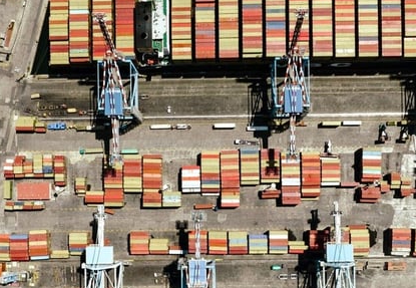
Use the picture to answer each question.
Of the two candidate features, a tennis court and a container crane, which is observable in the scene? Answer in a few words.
container crane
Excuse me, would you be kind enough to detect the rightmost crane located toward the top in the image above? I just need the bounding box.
[268,9,314,161]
